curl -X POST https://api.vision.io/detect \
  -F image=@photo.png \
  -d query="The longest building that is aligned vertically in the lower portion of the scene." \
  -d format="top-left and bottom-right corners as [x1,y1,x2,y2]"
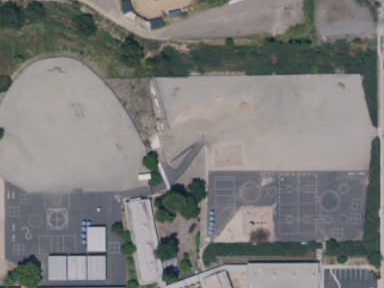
[125,198,163,284]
